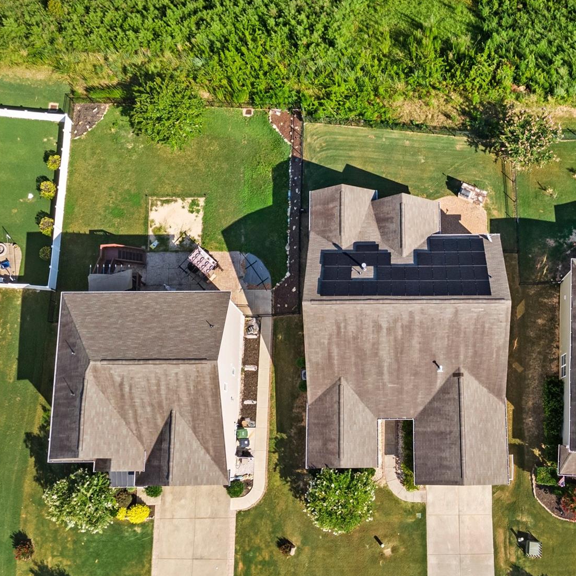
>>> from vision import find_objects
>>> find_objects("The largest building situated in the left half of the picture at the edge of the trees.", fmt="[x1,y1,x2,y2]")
[47,291,246,489]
